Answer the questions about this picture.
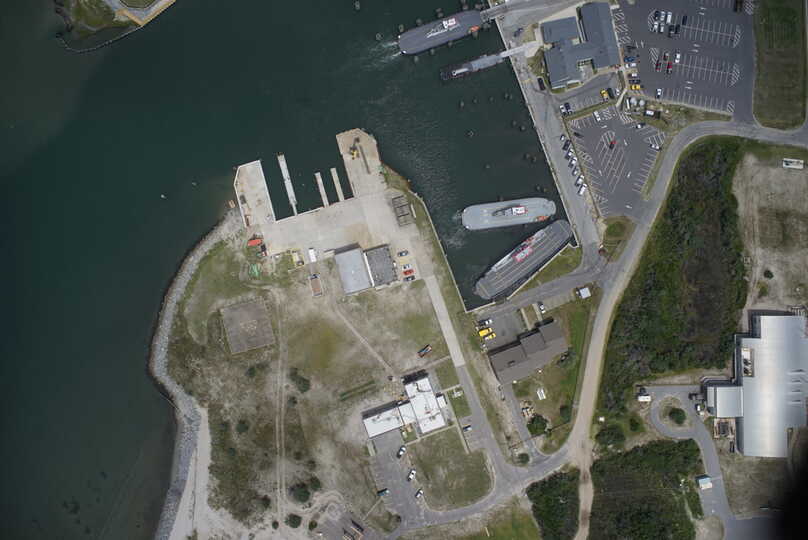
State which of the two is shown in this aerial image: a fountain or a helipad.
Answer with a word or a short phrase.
helipad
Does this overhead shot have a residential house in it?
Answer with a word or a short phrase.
Yes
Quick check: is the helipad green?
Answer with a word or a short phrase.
No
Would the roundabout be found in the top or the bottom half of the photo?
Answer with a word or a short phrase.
bottom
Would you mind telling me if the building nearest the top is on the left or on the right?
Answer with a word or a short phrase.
right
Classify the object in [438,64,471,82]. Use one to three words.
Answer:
vessel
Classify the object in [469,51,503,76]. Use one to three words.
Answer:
pier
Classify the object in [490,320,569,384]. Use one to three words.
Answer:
house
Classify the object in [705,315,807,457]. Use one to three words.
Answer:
building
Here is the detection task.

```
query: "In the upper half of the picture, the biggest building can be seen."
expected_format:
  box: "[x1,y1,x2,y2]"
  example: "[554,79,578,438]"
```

[541,2,624,92]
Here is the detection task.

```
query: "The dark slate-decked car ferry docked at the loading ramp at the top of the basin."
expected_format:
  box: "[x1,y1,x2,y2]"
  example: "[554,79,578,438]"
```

[398,12,481,54]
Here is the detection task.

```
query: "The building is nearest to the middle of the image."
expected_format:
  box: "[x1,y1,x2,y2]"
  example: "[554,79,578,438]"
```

[365,246,400,287]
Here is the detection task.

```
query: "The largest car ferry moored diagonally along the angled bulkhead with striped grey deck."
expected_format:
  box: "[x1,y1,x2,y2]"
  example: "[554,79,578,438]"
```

[472,220,574,302]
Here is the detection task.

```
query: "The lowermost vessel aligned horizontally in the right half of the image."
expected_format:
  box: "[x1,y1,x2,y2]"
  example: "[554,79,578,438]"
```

[462,200,556,229]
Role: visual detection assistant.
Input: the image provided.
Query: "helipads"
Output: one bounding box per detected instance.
[221,298,275,354]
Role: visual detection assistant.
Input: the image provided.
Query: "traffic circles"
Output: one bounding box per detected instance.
[645,386,808,540]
